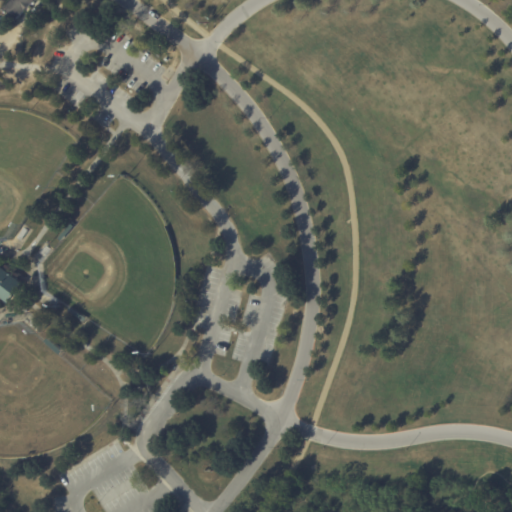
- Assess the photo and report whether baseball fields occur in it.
Yes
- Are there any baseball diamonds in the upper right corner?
No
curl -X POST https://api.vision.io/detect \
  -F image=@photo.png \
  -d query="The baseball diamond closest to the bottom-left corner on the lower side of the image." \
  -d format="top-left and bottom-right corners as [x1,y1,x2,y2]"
[0,322,112,458]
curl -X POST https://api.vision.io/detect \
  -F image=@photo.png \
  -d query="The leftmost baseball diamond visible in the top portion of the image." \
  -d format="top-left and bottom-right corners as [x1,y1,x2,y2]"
[0,109,76,245]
